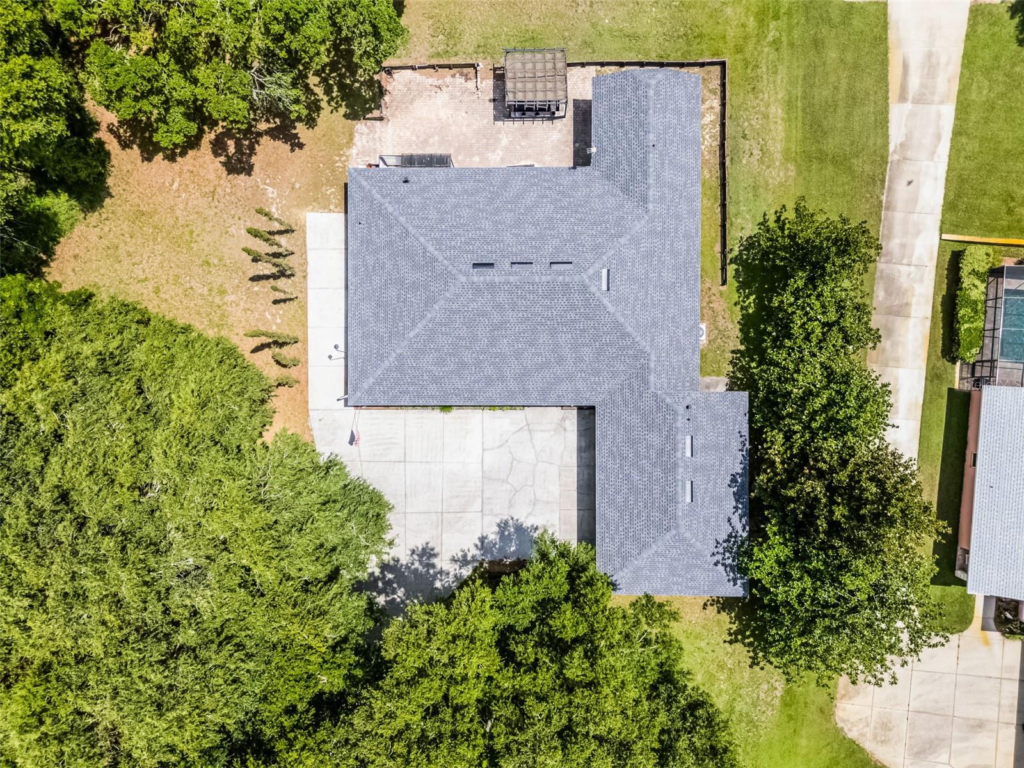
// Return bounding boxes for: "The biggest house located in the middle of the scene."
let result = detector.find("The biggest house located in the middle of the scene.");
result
[340,67,750,598]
